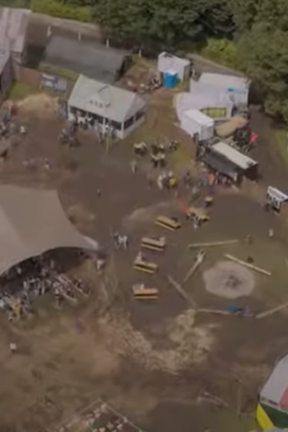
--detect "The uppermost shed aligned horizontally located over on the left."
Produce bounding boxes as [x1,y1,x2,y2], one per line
[39,33,135,84]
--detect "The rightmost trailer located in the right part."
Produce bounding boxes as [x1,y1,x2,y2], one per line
[196,139,260,190]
